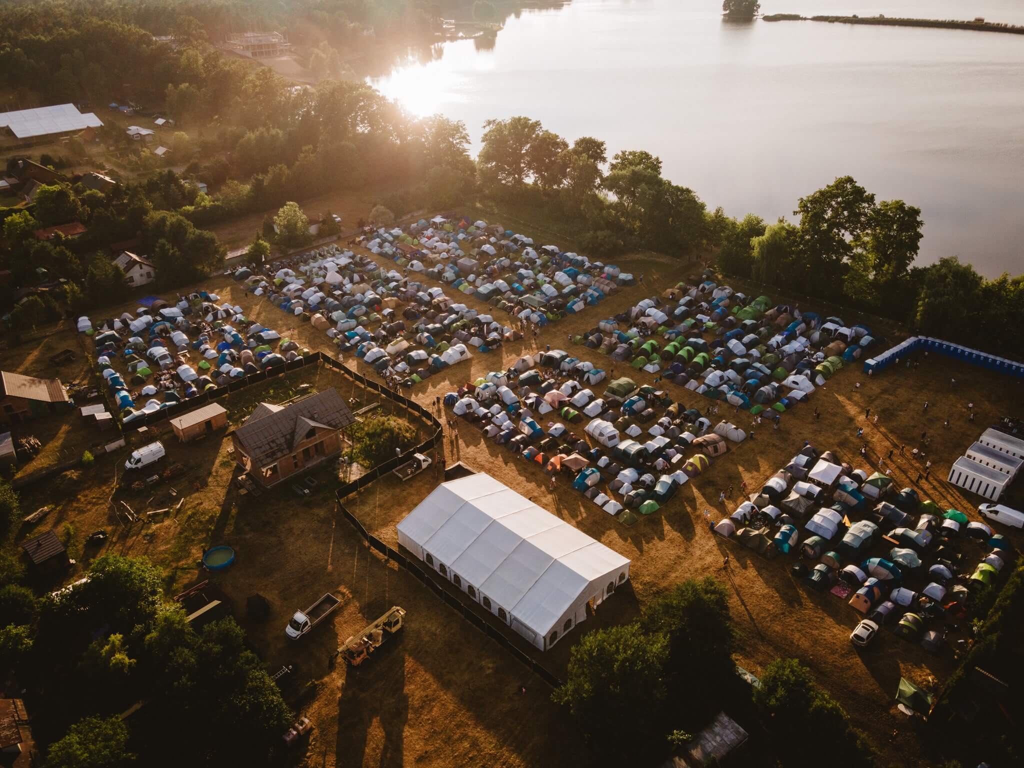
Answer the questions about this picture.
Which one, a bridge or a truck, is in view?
truck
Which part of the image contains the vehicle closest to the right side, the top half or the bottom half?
bottom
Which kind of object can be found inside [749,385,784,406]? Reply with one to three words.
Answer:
tent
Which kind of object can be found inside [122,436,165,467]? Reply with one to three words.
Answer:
van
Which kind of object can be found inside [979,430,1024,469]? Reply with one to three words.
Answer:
building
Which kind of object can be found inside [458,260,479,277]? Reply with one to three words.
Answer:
gazebo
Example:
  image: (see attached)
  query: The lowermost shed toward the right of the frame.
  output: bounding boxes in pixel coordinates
[680,699,755,768]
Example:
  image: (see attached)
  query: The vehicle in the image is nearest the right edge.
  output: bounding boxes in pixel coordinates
[985,502,1024,528]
